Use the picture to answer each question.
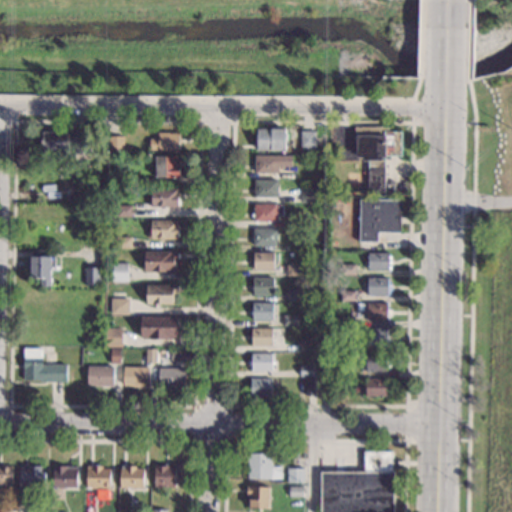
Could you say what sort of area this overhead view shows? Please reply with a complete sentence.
This looks like a residential area.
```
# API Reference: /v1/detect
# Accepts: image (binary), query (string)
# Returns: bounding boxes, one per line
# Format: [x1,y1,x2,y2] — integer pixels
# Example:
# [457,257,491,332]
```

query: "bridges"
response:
[418,0,477,80]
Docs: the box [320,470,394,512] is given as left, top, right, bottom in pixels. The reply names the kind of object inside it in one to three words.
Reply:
building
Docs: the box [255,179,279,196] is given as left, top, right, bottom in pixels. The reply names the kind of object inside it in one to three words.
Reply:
house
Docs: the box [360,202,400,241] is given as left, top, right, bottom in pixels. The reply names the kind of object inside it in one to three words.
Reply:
building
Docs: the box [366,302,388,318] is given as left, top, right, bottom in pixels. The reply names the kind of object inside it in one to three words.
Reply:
house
